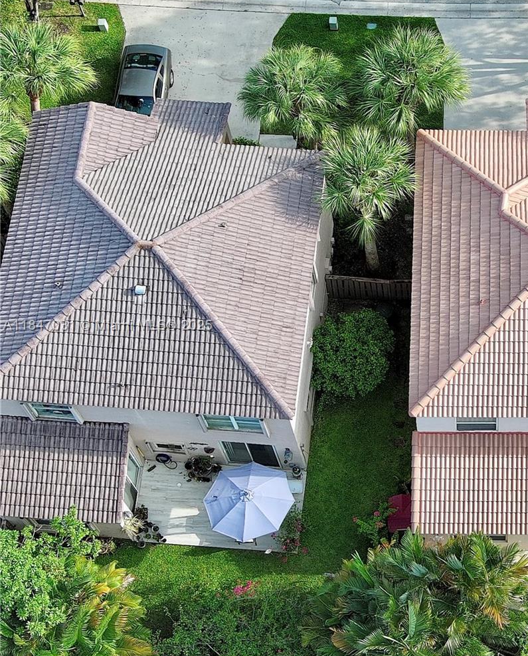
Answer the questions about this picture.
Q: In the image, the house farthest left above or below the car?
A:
below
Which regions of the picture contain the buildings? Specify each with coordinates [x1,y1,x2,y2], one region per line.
[408,94,528,549]
[0,99,334,536]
